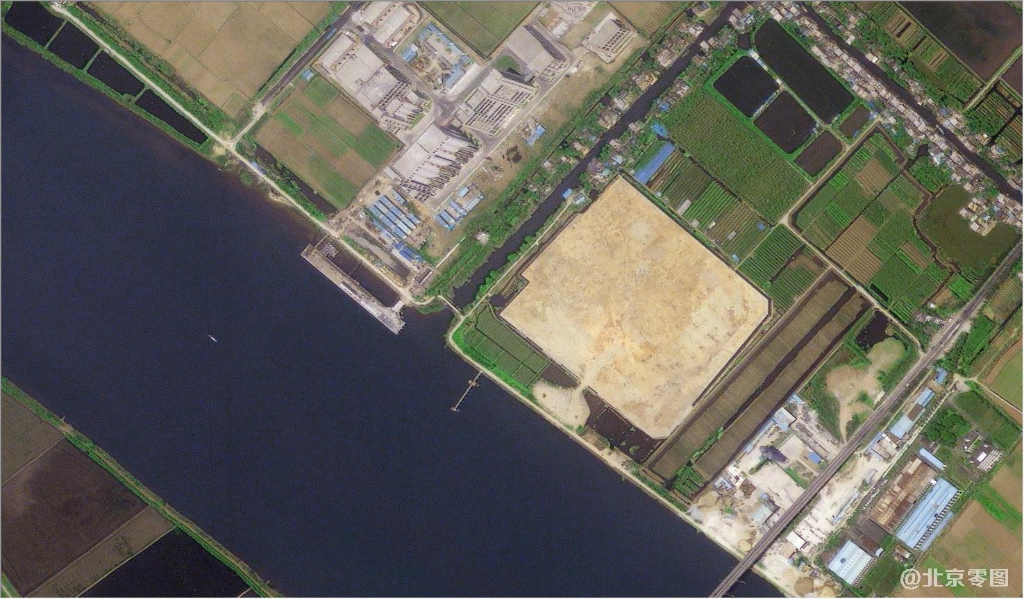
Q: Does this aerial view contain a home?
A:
Yes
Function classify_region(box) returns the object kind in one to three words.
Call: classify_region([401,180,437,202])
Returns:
building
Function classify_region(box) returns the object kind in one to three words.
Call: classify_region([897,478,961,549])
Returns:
shed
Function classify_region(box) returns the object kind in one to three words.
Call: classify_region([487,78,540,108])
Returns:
building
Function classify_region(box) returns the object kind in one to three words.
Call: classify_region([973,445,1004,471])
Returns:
house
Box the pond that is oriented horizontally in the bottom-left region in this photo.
[81,531,251,599]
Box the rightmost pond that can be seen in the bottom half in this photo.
[650,271,873,505]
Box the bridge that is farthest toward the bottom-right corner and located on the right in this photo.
[709,434,859,599]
